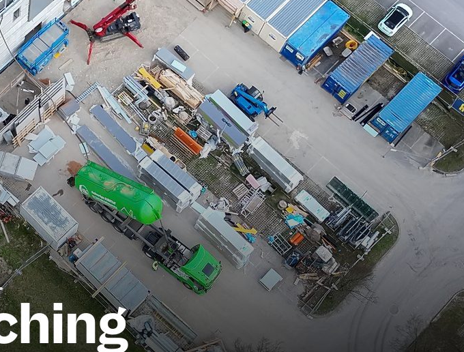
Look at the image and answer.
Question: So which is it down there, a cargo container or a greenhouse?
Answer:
cargo container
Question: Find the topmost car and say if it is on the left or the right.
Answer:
right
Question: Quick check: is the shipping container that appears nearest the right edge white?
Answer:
No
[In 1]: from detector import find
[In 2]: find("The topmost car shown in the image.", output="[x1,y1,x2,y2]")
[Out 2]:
[378,0,416,38]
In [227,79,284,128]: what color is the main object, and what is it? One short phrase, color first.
blue work vehicle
